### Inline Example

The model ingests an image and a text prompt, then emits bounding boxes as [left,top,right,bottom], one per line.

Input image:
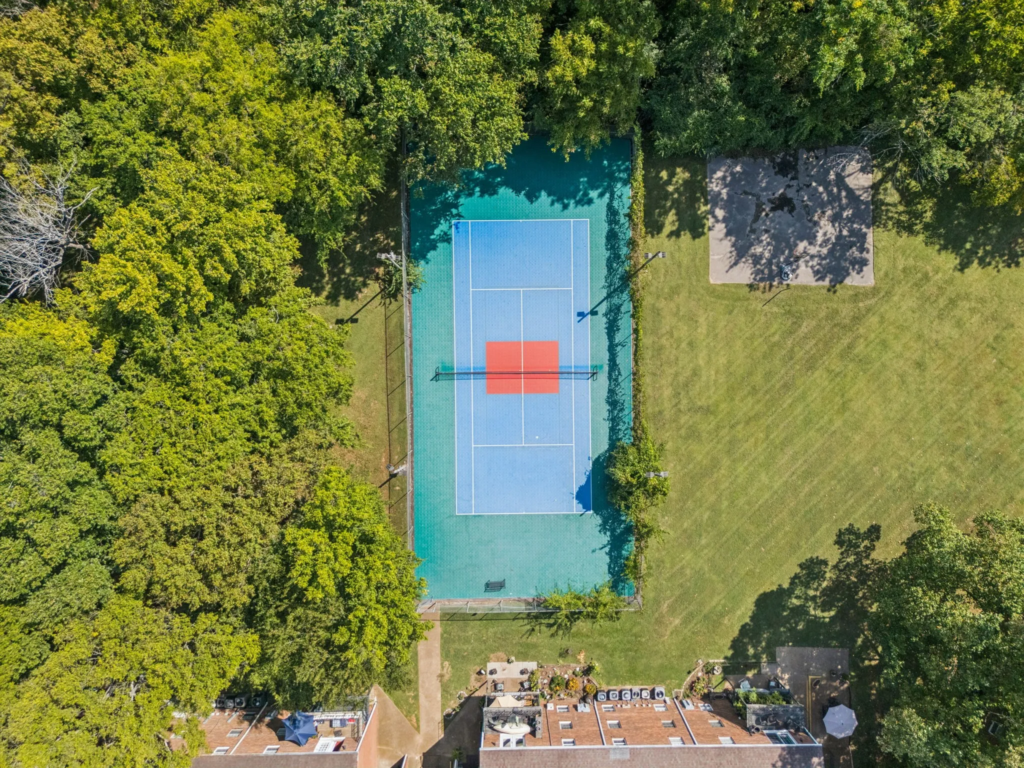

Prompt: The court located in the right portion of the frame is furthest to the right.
[707,145,875,285]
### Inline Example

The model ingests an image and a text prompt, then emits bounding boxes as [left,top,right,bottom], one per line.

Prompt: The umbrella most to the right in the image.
[823,704,858,739]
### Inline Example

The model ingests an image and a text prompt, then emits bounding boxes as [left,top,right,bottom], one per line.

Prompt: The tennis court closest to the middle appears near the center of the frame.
[409,139,635,600]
